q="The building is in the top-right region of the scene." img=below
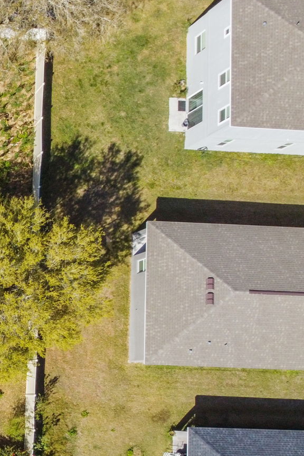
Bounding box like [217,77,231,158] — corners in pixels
[189,0,304,149]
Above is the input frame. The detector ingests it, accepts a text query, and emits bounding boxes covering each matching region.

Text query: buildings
[189,0,304,149]
[129,221,304,369]
[168,426,304,456]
